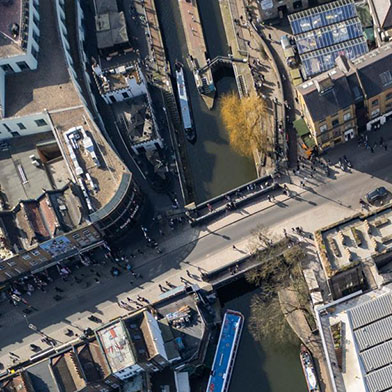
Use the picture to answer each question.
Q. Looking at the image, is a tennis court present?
No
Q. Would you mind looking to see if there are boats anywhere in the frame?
Yes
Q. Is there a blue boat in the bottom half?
Yes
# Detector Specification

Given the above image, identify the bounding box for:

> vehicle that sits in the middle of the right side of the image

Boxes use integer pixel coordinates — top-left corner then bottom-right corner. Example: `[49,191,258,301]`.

[365,184,390,201]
